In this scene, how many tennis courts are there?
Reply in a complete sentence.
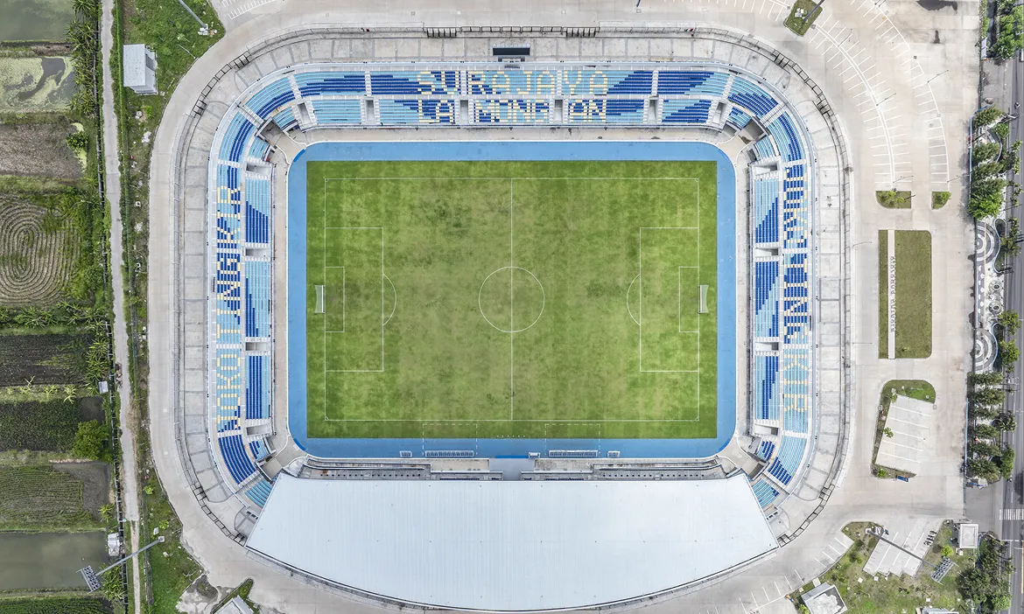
There are no tennis courts in this view.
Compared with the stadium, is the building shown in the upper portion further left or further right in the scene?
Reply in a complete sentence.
The building shown in the upper portion appears to the left of the stadium in this view.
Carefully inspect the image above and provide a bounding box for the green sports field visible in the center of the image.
[277,130,747,467]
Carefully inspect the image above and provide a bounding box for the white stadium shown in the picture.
[169,22,855,614]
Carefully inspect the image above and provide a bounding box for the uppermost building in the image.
[123,44,164,97]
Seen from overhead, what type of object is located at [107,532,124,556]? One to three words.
shed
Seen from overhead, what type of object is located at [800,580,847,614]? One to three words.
house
